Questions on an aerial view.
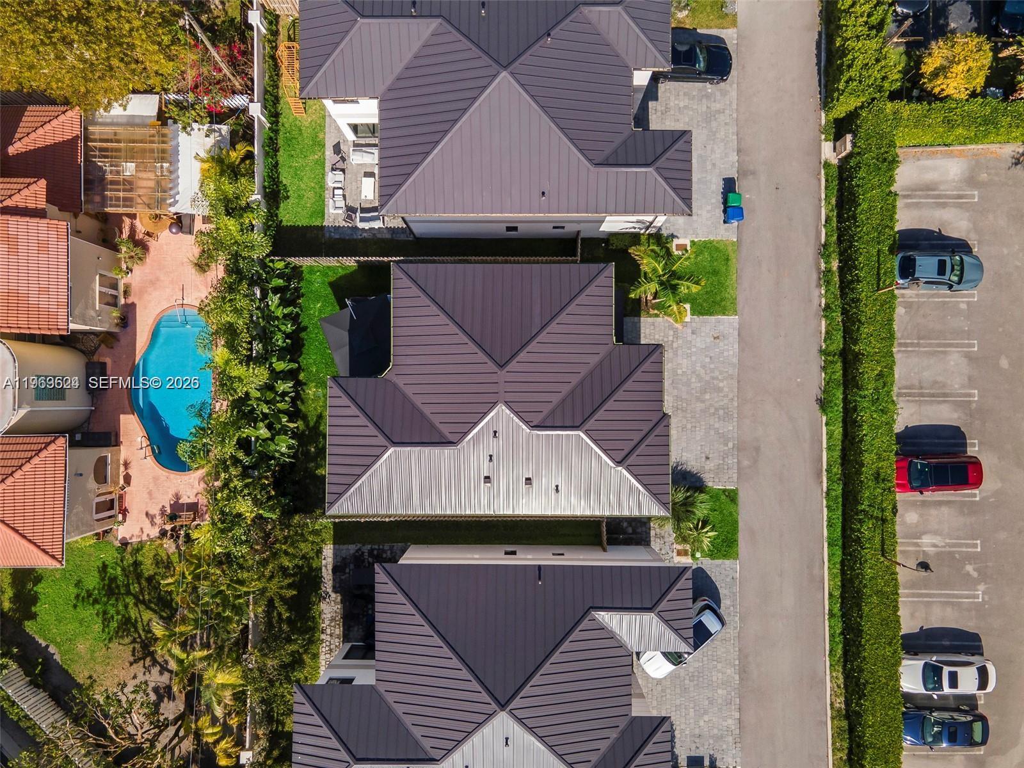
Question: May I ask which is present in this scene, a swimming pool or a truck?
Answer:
swimming pool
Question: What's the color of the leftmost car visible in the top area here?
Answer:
black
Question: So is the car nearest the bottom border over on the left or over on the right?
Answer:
right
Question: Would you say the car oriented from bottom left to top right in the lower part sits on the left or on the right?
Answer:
right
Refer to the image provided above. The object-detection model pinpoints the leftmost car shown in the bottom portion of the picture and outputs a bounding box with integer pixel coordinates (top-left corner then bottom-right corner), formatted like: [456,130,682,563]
[642,597,720,679]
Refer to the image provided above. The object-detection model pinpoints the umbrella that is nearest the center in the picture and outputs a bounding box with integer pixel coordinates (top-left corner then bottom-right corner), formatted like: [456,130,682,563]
[320,298,389,375]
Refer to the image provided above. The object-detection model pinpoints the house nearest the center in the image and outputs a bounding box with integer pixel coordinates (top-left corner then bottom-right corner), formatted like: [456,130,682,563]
[325,261,673,518]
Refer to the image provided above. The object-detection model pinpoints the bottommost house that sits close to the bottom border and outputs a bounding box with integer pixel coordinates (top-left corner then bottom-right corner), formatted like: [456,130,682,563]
[291,545,695,768]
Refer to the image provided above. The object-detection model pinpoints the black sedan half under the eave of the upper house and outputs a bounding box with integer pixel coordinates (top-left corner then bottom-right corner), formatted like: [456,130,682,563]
[648,40,731,87]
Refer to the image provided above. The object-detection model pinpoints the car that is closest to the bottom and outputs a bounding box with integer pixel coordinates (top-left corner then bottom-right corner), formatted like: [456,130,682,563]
[900,704,988,752]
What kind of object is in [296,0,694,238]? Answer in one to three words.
house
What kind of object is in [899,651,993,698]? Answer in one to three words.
car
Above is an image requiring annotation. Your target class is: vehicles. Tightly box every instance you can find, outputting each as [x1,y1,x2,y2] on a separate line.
[648,40,731,87]
[895,249,982,293]
[989,0,1024,36]
[900,704,988,752]
[899,651,993,698]
[896,452,981,497]
[642,597,720,679]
